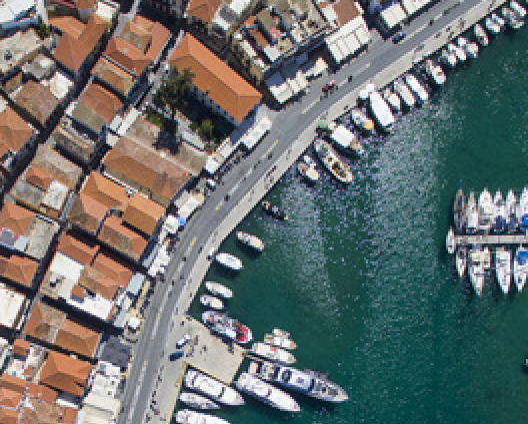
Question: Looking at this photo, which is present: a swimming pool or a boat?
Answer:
boat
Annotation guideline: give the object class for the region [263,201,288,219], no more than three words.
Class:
boat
